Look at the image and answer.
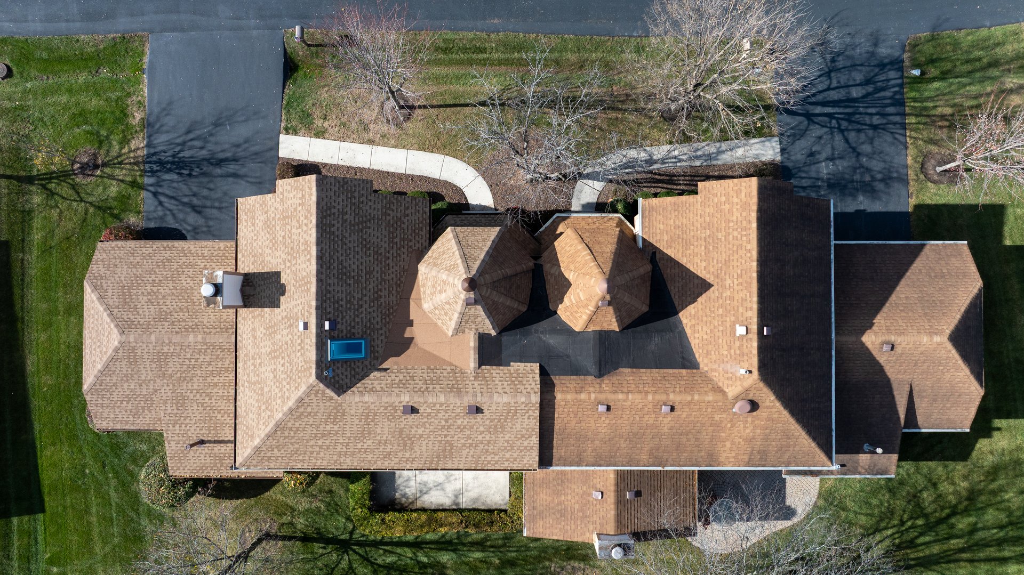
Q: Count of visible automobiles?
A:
zero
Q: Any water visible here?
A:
No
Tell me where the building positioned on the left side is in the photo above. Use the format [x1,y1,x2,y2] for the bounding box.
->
[83,174,540,479]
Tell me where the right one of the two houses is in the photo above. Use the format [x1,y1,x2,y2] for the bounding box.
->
[479,177,983,560]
